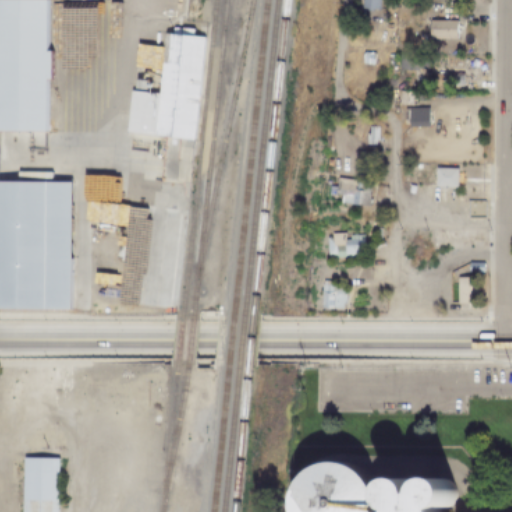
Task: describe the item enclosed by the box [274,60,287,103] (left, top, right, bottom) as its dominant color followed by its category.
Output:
white rail car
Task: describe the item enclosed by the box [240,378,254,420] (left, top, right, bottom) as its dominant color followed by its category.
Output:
white rail car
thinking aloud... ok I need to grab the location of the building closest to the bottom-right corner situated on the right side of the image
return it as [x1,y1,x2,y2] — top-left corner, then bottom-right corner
[459,278,472,304]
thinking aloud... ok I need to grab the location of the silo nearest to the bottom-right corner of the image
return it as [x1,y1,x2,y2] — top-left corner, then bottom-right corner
[398,474,456,510]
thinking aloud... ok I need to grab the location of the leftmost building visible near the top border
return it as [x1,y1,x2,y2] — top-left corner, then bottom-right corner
[0,0,56,131]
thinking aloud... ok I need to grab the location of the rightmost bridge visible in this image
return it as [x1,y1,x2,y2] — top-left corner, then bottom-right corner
[216,314,264,364]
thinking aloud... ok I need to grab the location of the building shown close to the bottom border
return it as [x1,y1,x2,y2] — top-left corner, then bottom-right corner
[24,457,62,512]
